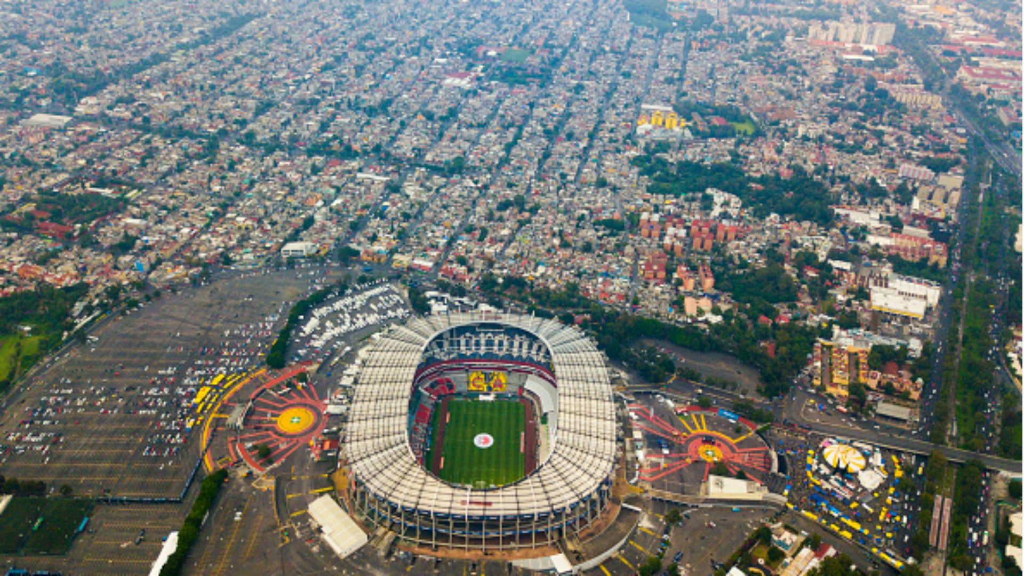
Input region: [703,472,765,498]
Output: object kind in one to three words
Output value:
building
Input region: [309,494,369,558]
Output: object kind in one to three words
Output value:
building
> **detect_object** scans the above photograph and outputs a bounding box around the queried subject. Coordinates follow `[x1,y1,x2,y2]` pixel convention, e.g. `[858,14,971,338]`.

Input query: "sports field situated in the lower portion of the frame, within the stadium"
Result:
[438,398,525,484]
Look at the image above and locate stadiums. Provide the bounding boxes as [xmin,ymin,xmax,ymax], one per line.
[344,300,617,553]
